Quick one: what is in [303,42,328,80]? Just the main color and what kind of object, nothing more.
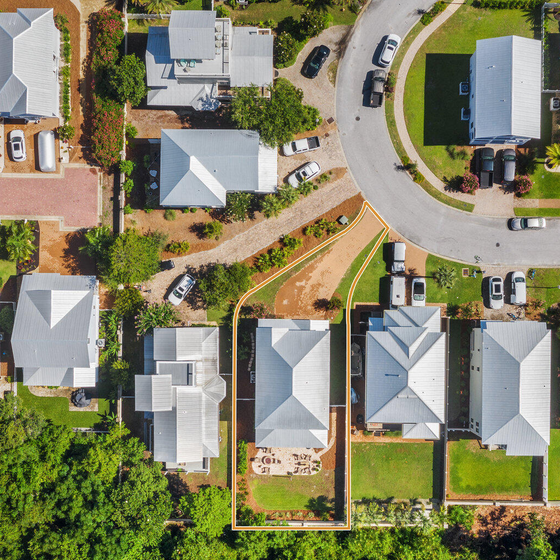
black car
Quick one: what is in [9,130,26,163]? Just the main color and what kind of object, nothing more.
white car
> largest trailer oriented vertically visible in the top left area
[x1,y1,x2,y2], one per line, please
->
[37,126,58,174]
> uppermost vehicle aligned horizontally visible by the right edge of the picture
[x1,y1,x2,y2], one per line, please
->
[508,215,545,232]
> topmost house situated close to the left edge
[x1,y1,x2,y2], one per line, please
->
[0,8,60,127]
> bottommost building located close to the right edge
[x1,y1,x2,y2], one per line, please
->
[466,320,551,456]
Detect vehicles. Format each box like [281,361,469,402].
[478,149,497,188]
[508,215,545,232]
[168,272,196,306]
[511,271,529,305]
[411,277,428,307]
[282,133,323,158]
[500,149,518,183]
[287,159,324,187]
[489,277,506,310]
[389,276,407,310]
[380,32,400,69]
[303,42,328,80]
[9,130,26,163]
[368,68,387,109]
[392,241,408,273]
